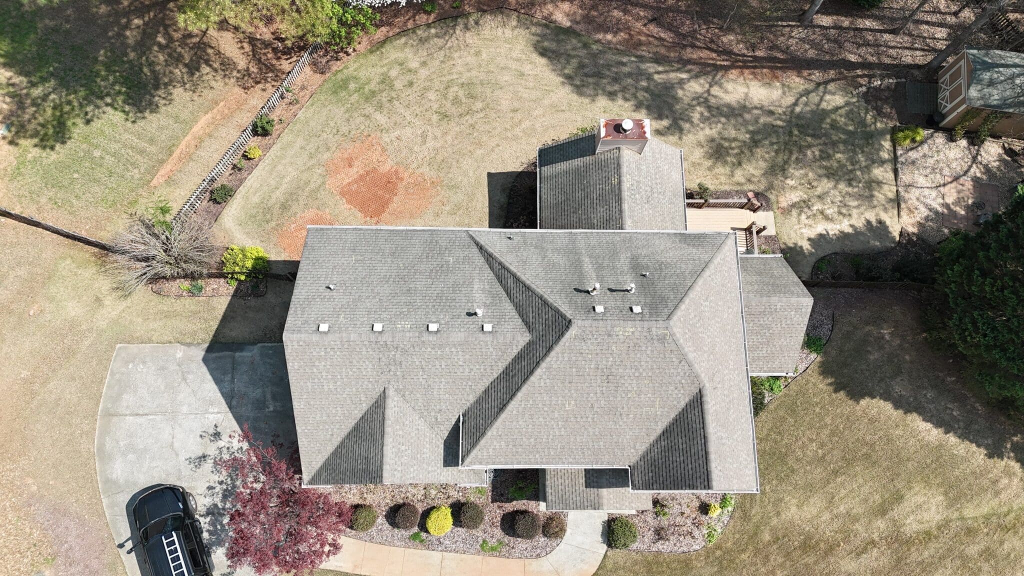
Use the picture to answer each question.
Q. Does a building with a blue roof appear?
No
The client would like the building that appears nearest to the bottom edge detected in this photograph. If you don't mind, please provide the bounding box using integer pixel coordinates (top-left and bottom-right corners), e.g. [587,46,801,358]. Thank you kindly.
[281,117,813,514]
